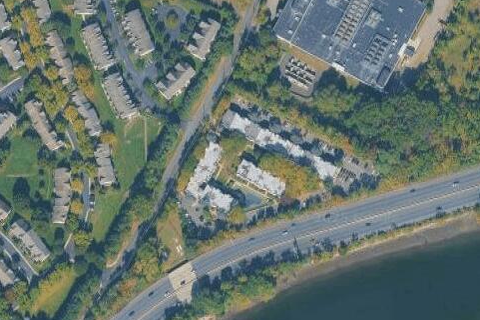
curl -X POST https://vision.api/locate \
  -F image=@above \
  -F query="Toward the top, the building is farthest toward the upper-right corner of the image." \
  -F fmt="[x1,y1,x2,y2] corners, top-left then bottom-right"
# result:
[275,0,428,89]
